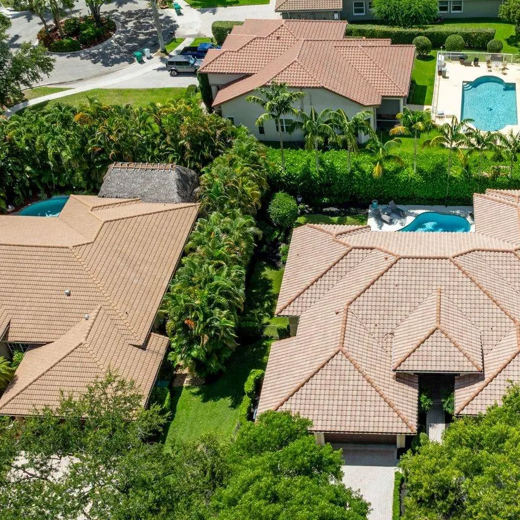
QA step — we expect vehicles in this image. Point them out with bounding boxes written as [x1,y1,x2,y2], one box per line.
[173,35,219,57]
[160,52,203,78]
